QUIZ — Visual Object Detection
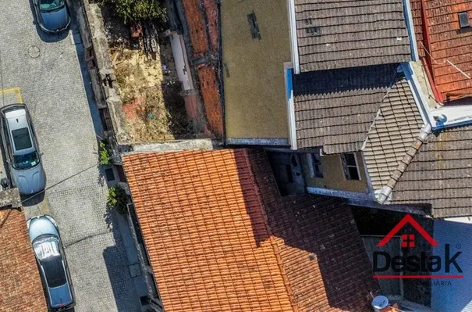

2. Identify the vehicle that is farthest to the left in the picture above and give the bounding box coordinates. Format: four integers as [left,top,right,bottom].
[0,102,47,198]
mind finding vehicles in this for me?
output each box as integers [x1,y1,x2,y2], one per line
[26,213,80,312]
[31,0,69,33]
[0,102,47,198]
